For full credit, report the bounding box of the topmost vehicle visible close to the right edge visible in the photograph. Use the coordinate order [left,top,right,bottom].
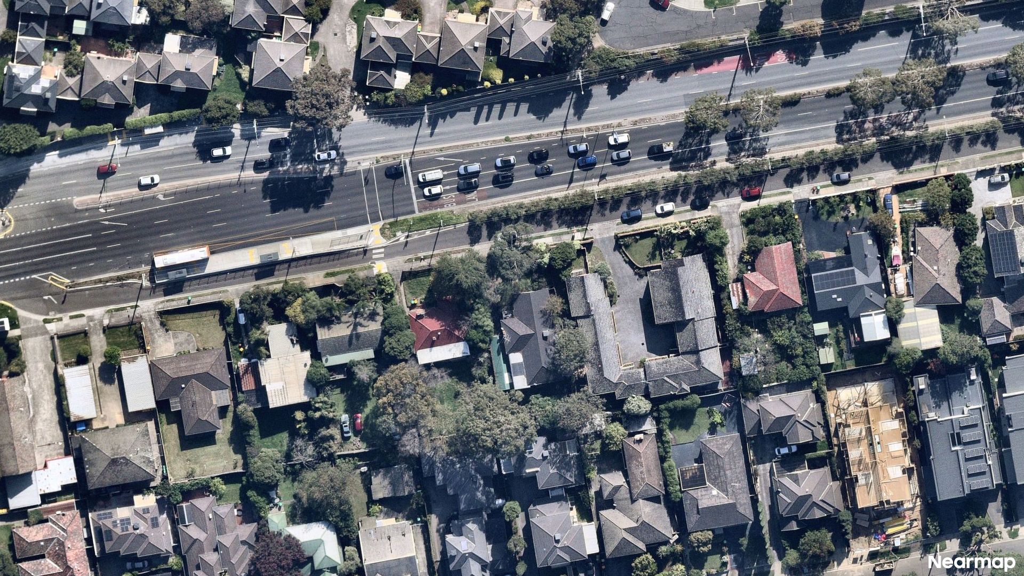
[987,71,1007,83]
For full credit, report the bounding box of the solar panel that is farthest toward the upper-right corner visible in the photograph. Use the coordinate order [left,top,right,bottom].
[990,230,1020,273]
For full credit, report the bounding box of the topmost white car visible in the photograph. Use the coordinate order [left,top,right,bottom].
[600,2,614,23]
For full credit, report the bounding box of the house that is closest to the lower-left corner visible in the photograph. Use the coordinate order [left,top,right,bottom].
[12,510,94,576]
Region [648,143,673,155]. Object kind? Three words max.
vehicle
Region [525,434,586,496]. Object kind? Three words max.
house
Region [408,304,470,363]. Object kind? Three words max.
house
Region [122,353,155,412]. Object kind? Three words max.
building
